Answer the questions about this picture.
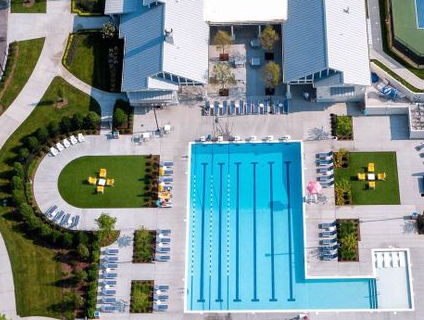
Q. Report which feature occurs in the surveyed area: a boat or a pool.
pool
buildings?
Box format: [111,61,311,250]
[104,0,210,106]
[284,0,371,103]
